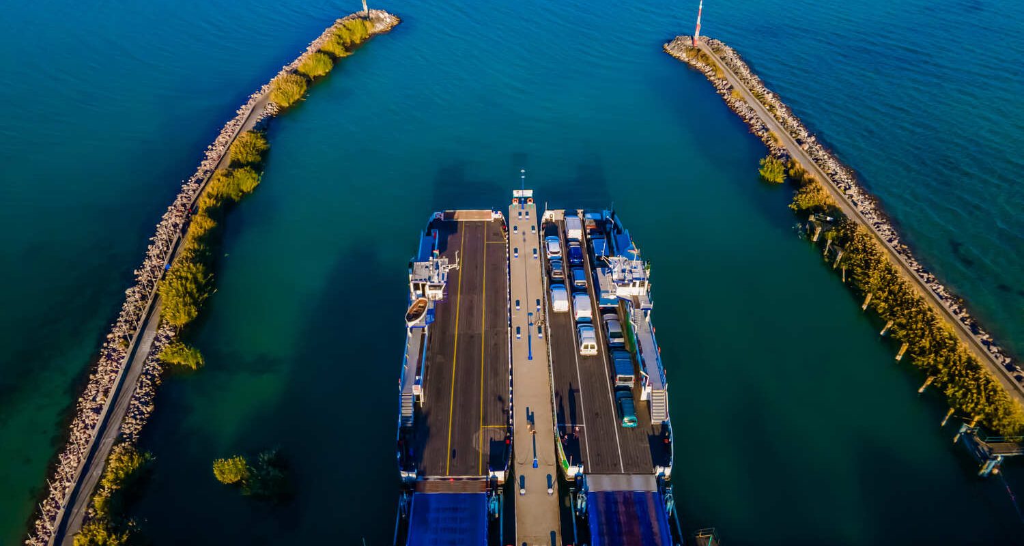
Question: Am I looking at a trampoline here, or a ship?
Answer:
ship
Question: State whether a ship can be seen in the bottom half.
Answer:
Yes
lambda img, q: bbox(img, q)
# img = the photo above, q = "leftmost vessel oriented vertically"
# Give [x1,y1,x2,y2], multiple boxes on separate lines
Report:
[393,212,511,508]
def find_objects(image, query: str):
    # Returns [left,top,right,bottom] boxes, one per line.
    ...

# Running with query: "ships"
[393,212,511,508]
[541,211,676,506]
